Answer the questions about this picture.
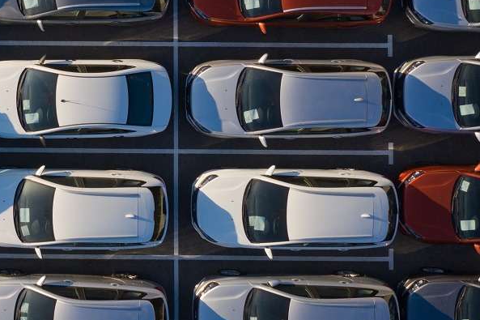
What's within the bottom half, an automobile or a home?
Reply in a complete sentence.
You can see an automobile within the bottom half.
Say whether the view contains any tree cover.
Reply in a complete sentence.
No, the scene doesn't show any tree cover.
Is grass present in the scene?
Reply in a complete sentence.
No, no grass is visible.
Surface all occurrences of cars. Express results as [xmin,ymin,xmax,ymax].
[0,52,172,148]
[0,164,167,260]
[396,264,480,320]
[186,0,388,33]
[0,0,167,32]
[185,52,390,148]
[193,265,397,320]
[191,164,396,259]
[388,48,480,144]
[0,266,168,320]
[393,160,480,252]
[400,0,480,31]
